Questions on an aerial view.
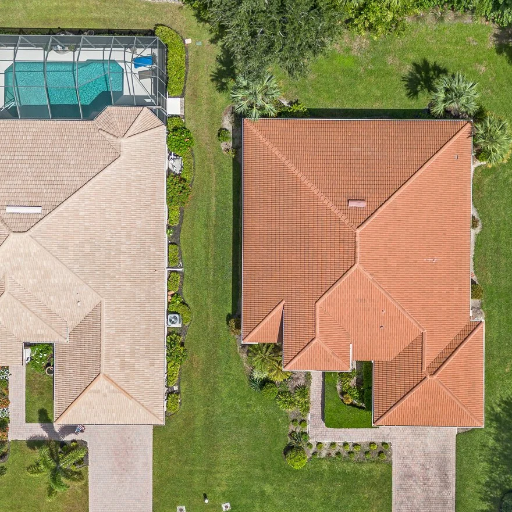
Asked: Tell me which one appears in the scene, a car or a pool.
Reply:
pool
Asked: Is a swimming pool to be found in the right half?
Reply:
No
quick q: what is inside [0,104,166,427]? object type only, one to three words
house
